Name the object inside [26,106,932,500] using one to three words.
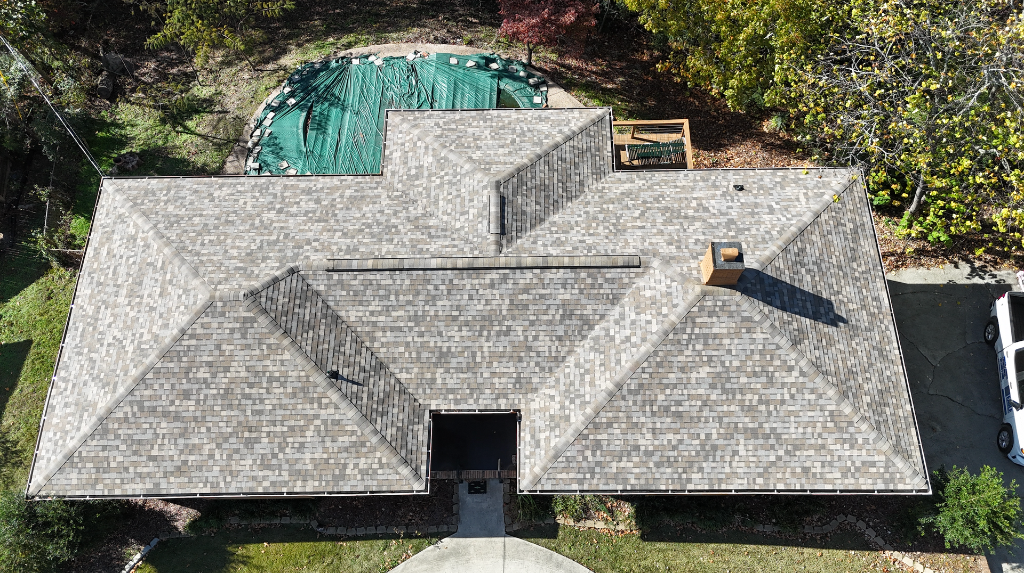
house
